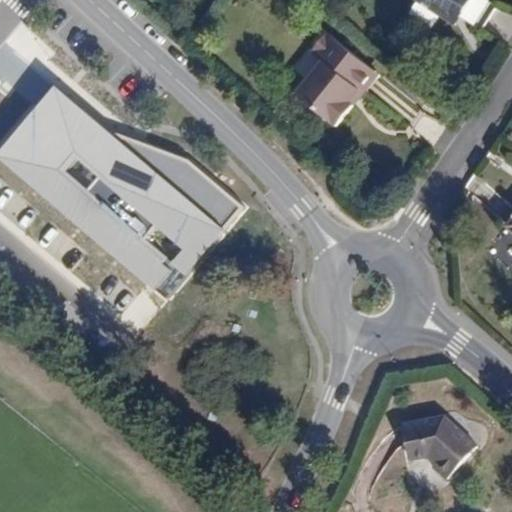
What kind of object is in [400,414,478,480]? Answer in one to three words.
house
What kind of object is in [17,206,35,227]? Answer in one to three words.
car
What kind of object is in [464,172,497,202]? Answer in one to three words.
building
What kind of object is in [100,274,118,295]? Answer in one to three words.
car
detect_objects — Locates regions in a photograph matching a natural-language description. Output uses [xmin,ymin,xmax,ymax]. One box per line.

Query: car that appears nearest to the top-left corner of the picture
[50,9,66,30]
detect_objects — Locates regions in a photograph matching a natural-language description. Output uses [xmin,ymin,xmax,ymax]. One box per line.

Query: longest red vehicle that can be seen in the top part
[120,77,138,98]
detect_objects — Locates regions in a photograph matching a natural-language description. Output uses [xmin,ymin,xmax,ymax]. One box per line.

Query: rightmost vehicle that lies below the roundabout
[335,380,350,404]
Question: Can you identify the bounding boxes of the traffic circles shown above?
[312,230,436,356]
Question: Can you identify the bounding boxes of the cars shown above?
[38,226,56,246]
[120,77,138,98]
[114,287,132,308]
[62,246,81,268]
[17,206,35,227]
[50,9,66,30]
[145,25,165,44]
[66,28,86,50]
[168,45,188,66]
[116,0,136,17]
[335,380,350,404]
[0,188,14,208]
[100,274,118,295]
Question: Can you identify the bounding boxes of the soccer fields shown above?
[0,399,142,512]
